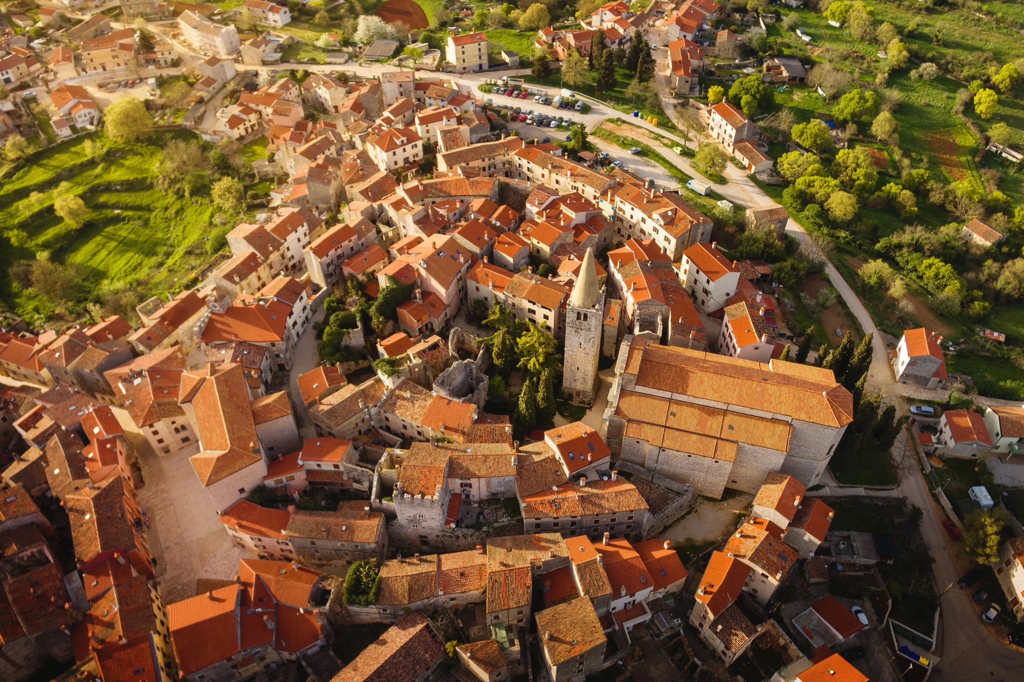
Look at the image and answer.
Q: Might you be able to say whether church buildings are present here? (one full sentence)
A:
Yes, the image includes a church building.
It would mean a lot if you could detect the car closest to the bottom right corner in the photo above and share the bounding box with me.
[1000,627,1024,649]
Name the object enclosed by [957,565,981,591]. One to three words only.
car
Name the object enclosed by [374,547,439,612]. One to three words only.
house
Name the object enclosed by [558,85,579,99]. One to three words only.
vehicle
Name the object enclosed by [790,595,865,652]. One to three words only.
building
